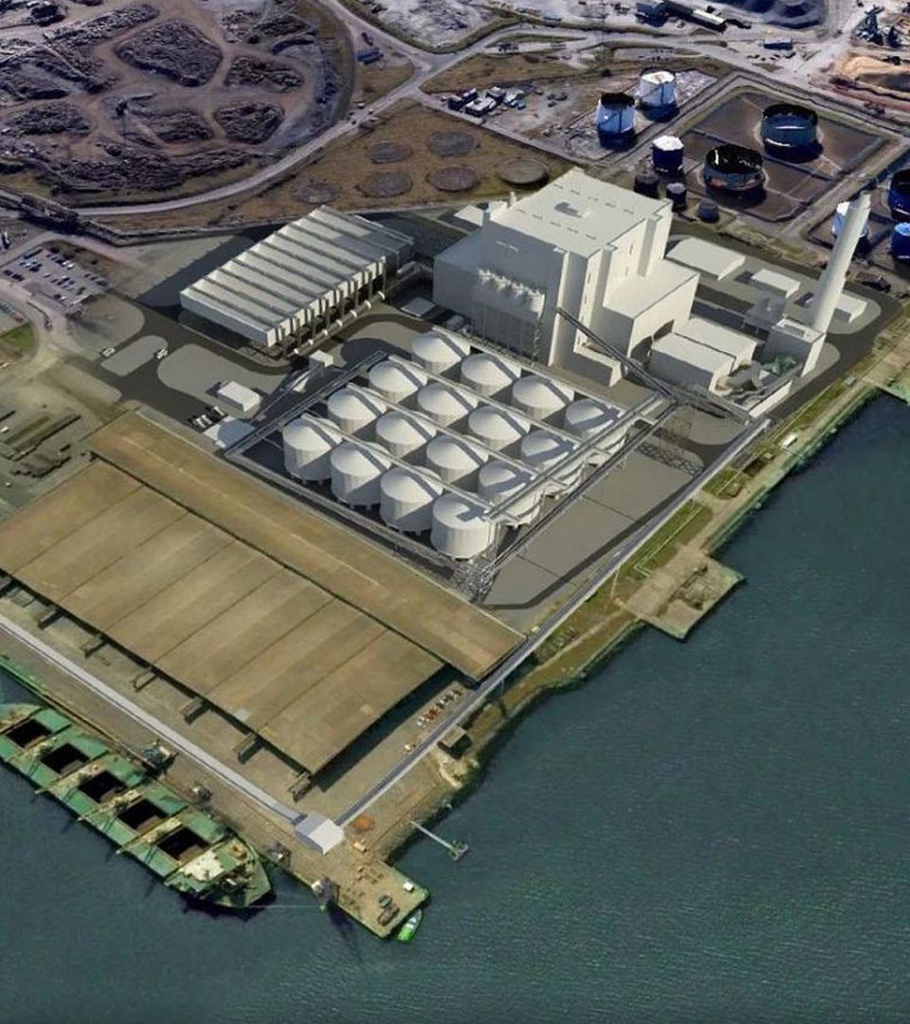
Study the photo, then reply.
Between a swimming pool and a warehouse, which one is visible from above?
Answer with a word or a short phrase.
warehouse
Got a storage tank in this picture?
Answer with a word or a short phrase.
Yes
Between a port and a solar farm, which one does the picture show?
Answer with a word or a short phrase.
port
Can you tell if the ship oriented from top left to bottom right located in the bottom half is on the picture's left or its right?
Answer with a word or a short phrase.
left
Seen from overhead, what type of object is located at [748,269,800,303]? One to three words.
building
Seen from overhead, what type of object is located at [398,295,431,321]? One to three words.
building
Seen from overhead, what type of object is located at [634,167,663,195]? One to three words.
storage tank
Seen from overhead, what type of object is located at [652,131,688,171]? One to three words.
storage tank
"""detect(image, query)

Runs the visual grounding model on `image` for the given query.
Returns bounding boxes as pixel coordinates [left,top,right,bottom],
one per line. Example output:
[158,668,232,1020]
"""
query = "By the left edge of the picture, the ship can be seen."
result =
[0,700,271,915]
